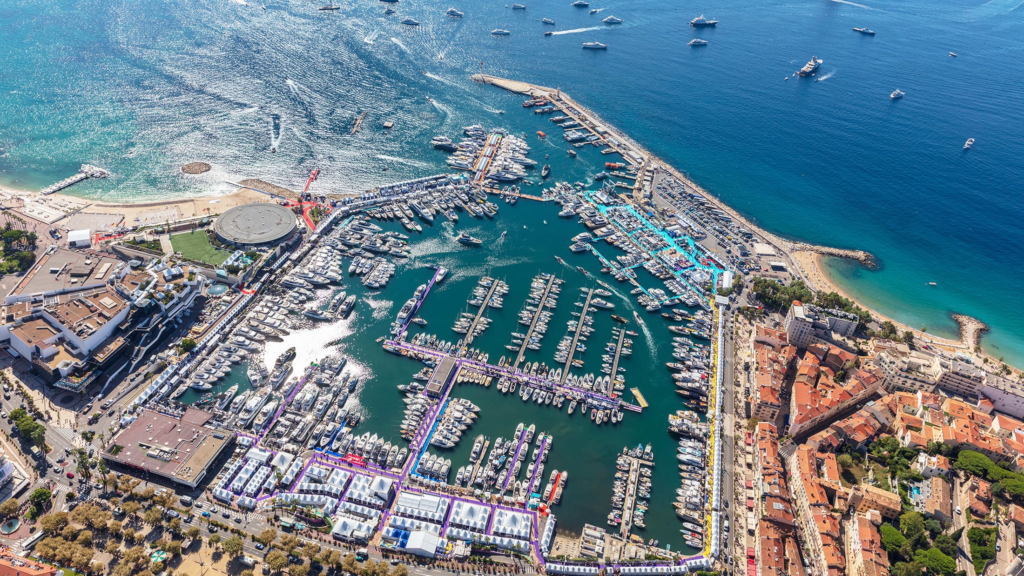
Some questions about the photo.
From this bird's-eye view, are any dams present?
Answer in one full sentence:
No, no dam is visible in the view.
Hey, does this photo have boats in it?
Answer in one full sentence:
Yes, the picture does show a boat.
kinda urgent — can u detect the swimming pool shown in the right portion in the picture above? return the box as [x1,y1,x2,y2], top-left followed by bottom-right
[908,480,927,508]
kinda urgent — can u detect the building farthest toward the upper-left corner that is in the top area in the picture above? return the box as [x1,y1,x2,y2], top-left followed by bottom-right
[21,202,65,228]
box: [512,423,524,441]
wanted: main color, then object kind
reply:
white boat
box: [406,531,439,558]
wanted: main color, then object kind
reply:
white tent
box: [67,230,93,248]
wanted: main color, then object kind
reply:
white tent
